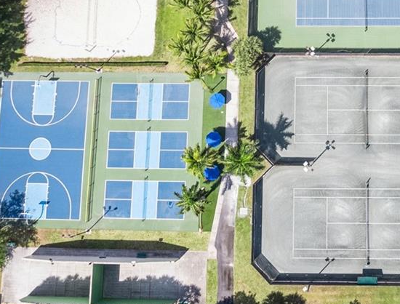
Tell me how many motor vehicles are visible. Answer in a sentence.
Not a single motor vehicle can be seen.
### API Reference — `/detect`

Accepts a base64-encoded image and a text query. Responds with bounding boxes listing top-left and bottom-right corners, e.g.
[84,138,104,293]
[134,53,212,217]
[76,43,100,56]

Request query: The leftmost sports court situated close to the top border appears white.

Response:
[24,0,158,58]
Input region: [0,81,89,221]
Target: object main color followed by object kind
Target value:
blue basketball court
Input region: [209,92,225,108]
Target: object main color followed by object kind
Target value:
blue umbrella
